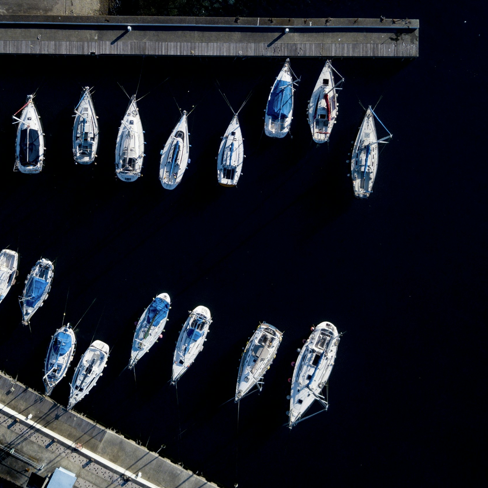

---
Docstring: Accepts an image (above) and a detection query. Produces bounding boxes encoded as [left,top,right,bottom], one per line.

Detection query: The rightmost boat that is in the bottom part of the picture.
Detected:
[283,318,339,429]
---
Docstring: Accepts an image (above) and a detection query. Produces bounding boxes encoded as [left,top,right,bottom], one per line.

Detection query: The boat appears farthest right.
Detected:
[349,105,392,198]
